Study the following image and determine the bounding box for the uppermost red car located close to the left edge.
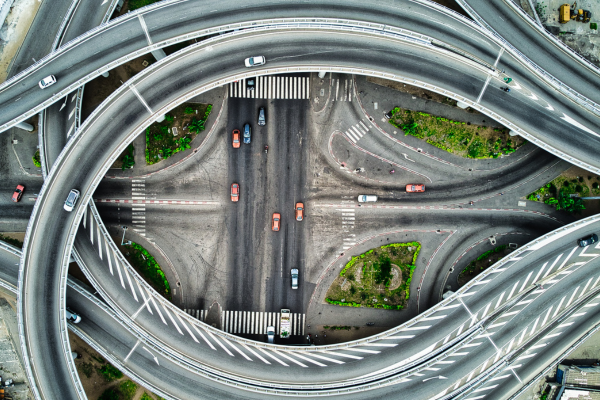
[9,183,24,203]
